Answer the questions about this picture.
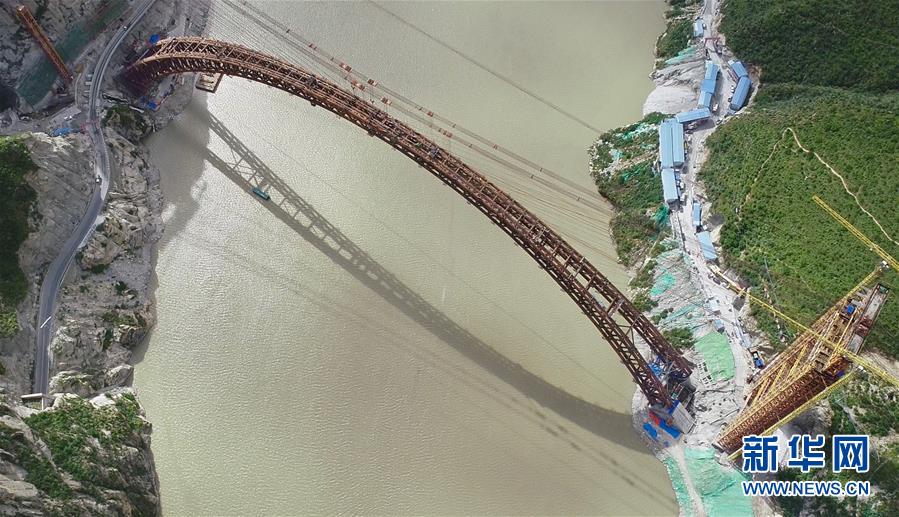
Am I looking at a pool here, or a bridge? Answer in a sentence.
The image shows a bridge.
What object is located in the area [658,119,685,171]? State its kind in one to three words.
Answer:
shed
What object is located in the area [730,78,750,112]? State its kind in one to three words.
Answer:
shed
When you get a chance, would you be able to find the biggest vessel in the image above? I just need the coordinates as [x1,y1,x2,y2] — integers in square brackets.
[191,70,224,97]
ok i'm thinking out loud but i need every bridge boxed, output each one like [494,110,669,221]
[117,37,705,420]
